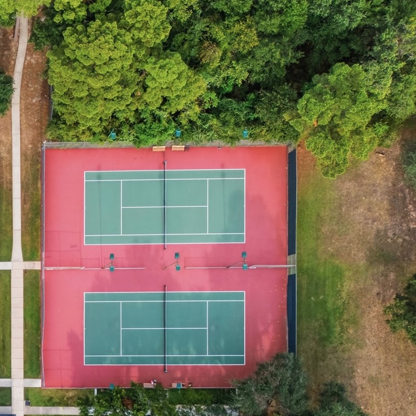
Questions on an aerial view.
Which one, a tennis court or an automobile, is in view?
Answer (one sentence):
I can see a tennis court in this picture.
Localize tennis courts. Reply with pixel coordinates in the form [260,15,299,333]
[44,146,288,269]
[43,269,288,387]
